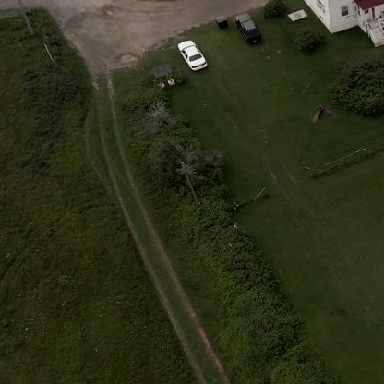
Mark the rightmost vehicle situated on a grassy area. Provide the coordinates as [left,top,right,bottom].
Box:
[233,16,261,40]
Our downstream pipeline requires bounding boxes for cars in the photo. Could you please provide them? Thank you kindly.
[233,16,261,40]
[178,40,208,68]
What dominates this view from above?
grass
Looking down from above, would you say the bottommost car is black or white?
white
